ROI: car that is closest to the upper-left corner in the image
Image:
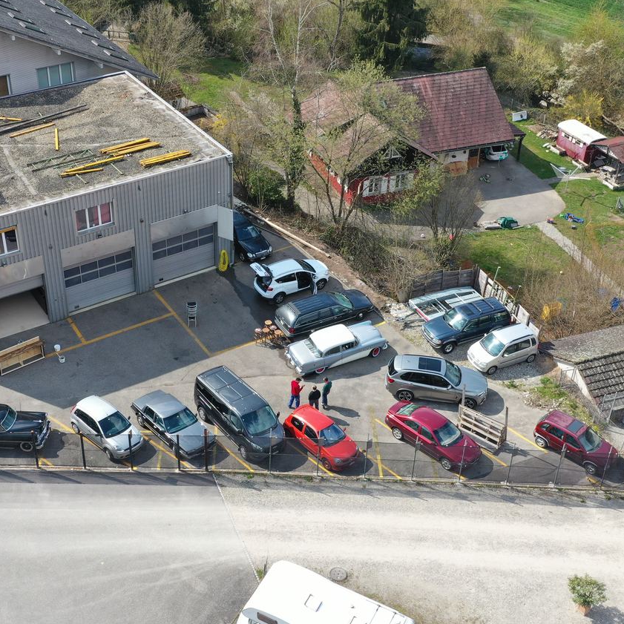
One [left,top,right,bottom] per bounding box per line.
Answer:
[233,208,271,261]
